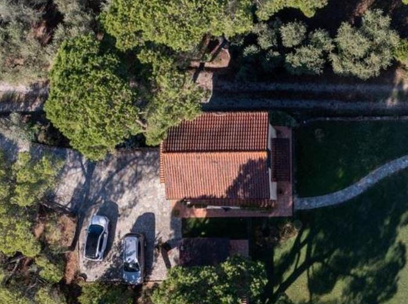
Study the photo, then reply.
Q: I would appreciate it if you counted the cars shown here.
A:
two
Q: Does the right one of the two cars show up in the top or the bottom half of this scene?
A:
bottom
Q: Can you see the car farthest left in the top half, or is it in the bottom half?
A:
bottom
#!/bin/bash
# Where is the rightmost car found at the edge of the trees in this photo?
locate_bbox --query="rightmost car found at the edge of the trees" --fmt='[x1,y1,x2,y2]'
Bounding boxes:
[119,234,144,283]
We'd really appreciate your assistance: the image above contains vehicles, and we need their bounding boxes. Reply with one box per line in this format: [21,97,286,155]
[119,234,144,283]
[84,216,110,260]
